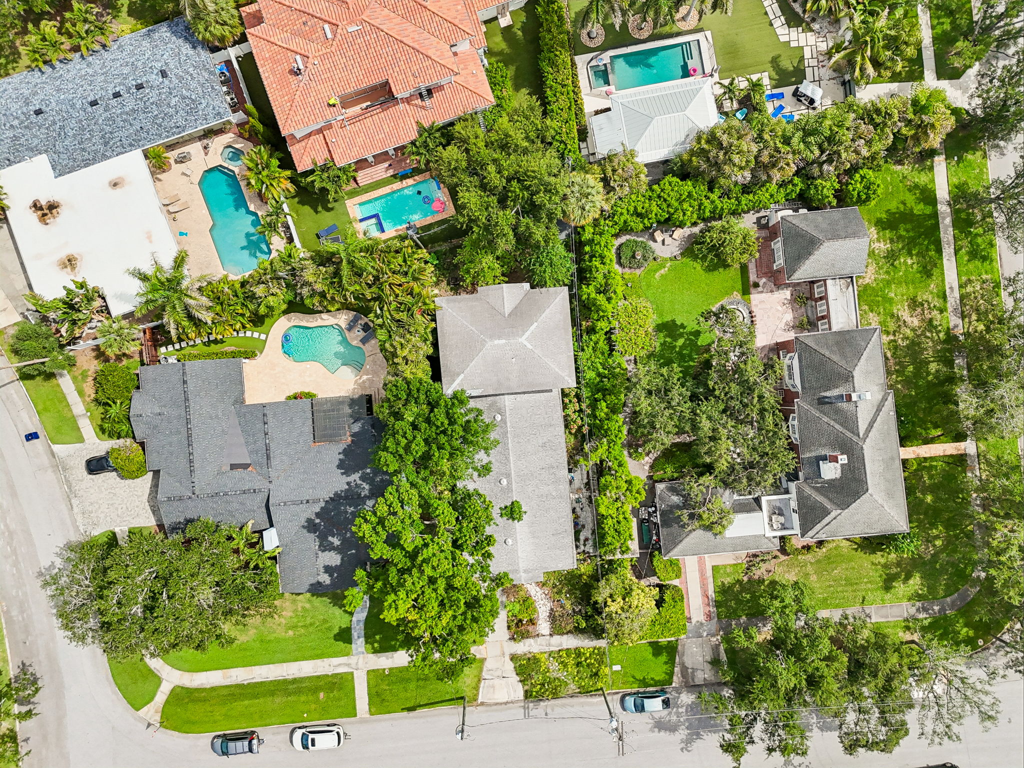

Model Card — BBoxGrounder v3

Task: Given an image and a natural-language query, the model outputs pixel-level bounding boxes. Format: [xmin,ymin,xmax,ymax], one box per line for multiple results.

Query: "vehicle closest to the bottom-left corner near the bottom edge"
[209,729,263,760]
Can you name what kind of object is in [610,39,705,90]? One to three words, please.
swimming pool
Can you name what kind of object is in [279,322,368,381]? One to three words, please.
swimming pool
